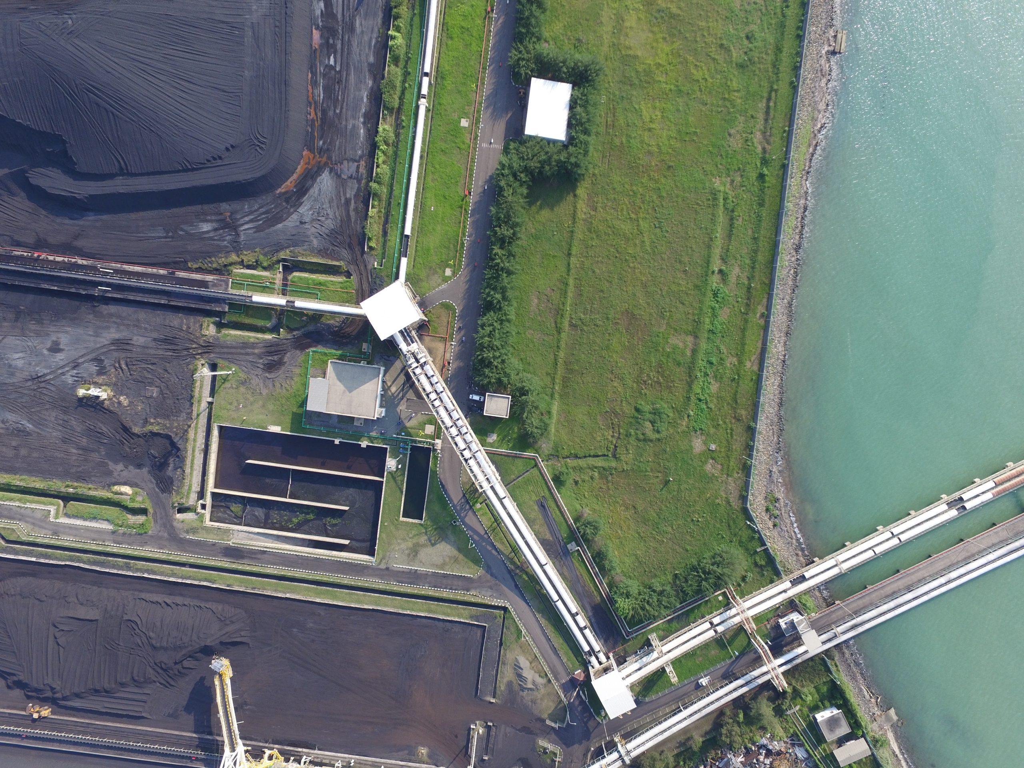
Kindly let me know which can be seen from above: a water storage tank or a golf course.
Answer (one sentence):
Visible in the photo is a water storage tank.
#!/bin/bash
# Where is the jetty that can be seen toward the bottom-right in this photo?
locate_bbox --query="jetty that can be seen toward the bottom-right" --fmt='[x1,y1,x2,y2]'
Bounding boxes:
[808,508,1024,636]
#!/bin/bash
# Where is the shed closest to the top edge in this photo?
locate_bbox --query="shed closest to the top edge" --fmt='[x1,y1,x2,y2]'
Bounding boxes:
[525,78,572,143]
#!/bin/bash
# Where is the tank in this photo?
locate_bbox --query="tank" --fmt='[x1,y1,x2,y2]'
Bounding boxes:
[399,444,434,524]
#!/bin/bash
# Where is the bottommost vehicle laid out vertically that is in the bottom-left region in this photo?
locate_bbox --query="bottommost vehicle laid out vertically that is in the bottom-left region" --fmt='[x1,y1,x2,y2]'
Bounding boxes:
[208,651,274,768]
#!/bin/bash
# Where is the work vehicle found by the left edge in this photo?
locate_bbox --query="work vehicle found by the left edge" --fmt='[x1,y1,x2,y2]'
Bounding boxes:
[30,701,53,714]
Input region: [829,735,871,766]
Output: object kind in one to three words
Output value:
shed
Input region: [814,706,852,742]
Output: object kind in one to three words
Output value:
shed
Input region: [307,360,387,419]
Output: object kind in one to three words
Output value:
building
